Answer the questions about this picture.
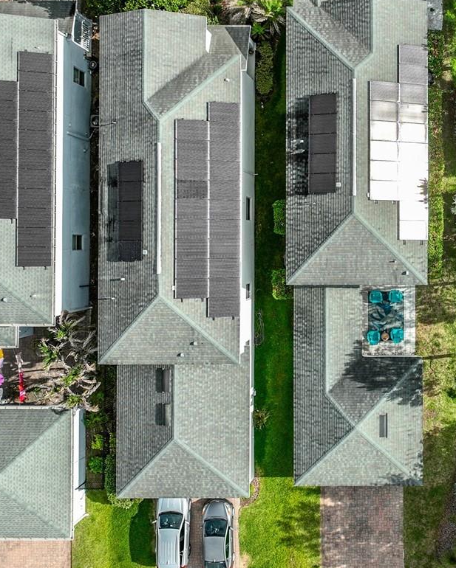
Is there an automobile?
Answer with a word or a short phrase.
Yes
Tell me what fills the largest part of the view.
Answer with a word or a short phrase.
buildings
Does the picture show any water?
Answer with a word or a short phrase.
No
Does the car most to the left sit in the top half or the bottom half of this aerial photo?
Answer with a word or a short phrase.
bottom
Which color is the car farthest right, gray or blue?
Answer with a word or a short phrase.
gray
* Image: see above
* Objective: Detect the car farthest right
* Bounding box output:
[197,498,237,568]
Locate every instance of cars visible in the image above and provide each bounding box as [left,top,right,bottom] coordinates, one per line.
[154,498,194,567]
[197,498,237,568]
